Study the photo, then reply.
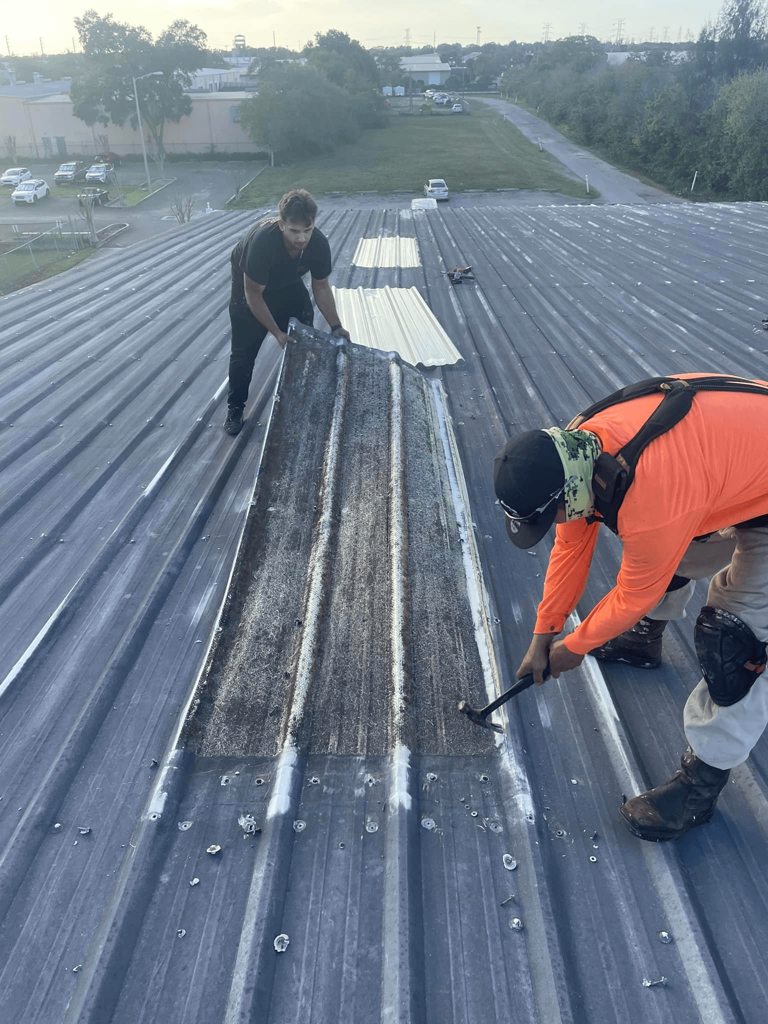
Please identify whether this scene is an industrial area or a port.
industrial area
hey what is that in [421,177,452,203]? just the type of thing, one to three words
car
